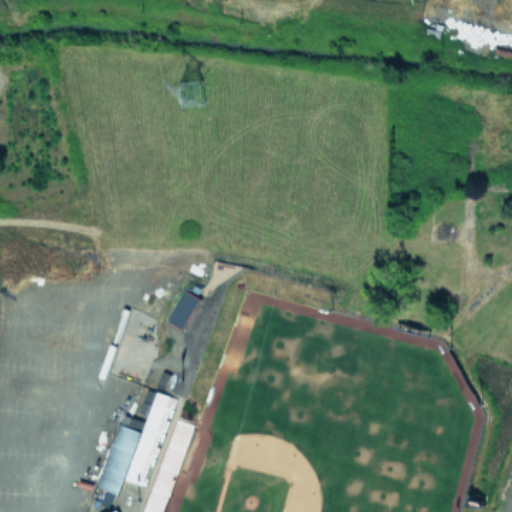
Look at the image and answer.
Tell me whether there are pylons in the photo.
Yes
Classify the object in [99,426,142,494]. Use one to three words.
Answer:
building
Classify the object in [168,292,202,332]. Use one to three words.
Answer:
building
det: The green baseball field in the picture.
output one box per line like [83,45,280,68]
[167,294,485,512]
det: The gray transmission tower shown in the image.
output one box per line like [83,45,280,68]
[166,80,206,108]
